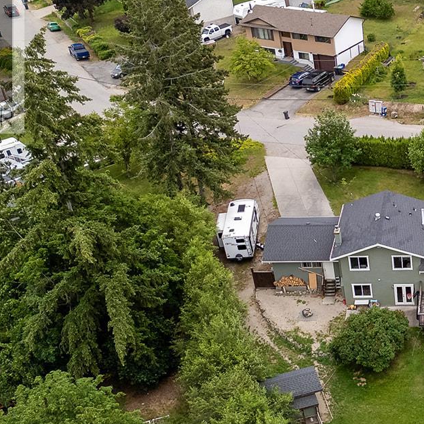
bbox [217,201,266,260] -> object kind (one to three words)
trailer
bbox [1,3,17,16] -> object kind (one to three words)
vehicle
